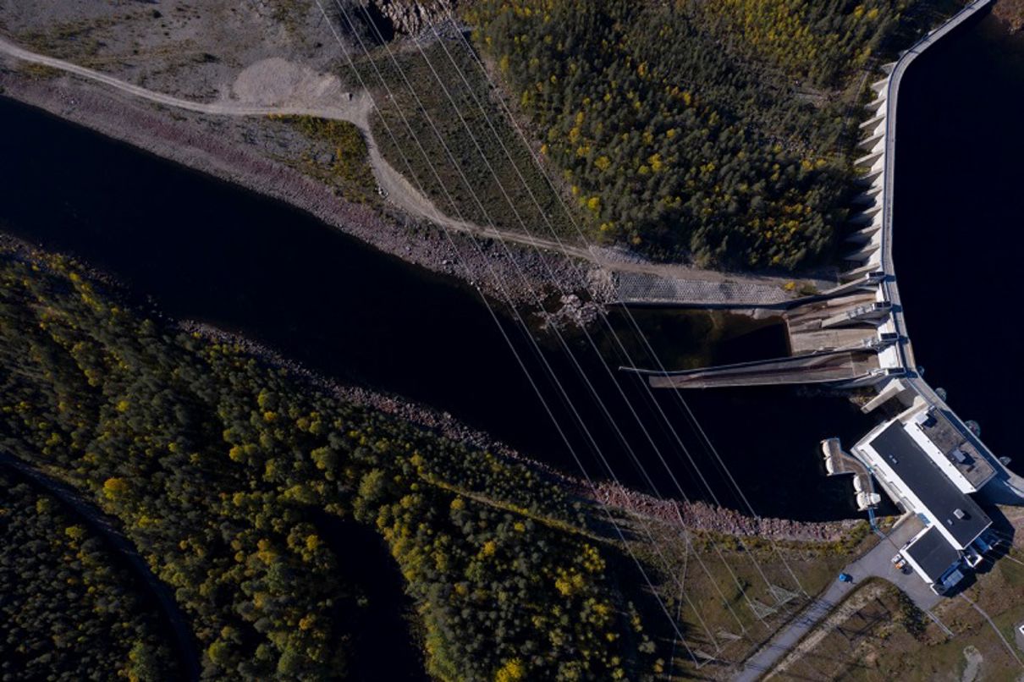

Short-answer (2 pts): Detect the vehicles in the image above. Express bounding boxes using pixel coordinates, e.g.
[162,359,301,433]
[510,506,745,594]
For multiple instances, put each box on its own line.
[839,572,848,583]
[890,553,903,565]
[895,558,908,570]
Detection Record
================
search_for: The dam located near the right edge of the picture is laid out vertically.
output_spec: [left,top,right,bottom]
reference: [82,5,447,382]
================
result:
[837,0,1024,496]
